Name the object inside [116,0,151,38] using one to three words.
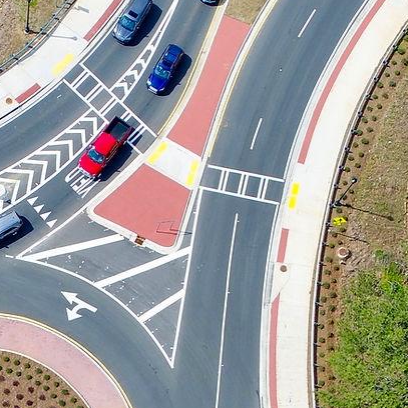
car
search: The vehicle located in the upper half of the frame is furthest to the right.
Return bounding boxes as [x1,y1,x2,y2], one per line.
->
[149,41,184,90]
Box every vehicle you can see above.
[0,209,22,237]
[116,0,151,38]
[149,41,184,90]
[82,112,133,171]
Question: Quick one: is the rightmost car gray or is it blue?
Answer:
blue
